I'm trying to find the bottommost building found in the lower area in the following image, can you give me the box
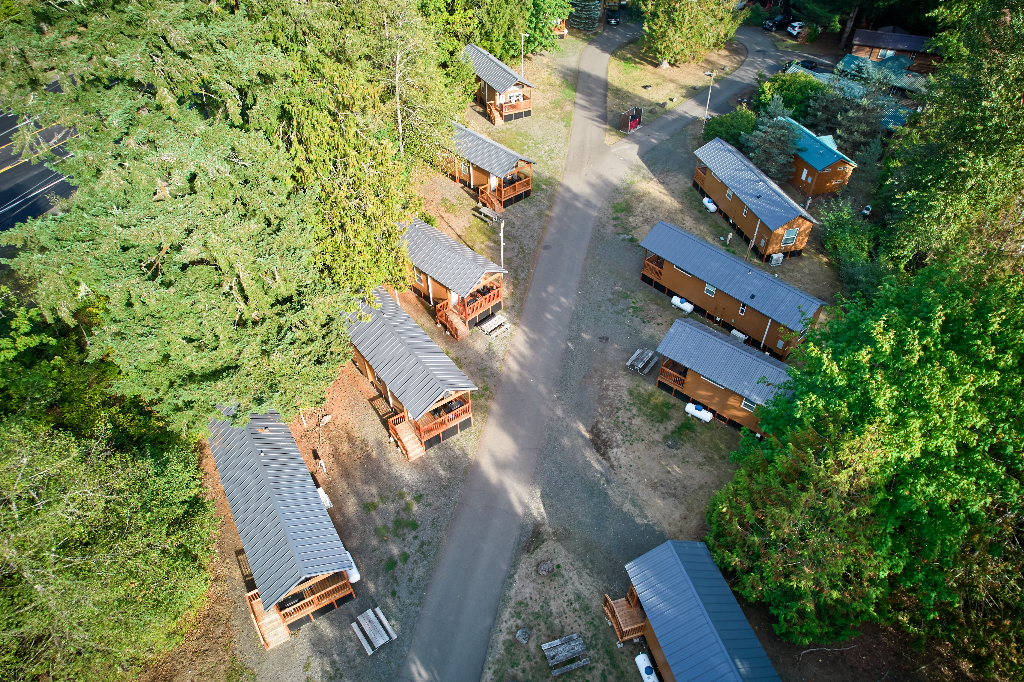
[601,540,782,682]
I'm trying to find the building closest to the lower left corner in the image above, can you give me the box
[202,392,355,654]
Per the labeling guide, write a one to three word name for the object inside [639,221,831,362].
building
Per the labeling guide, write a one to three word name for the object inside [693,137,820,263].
building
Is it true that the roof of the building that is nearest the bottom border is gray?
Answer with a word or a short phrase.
No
